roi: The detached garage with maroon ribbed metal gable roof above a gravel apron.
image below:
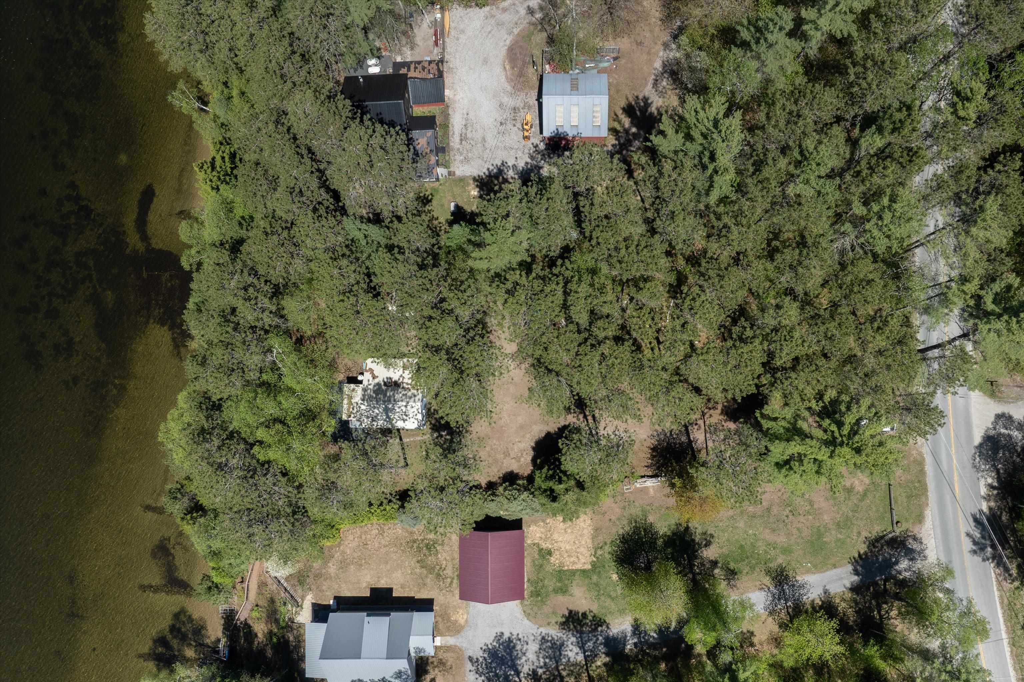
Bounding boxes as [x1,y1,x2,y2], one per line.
[459,530,525,605]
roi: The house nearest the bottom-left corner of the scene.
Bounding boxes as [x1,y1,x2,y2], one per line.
[305,611,435,682]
